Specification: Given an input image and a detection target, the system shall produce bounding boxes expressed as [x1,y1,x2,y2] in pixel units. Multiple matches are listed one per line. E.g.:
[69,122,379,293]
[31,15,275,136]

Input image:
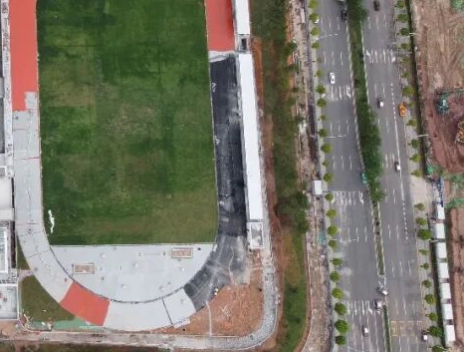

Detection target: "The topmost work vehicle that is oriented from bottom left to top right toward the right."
[437,87,454,111]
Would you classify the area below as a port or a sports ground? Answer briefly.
sports ground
